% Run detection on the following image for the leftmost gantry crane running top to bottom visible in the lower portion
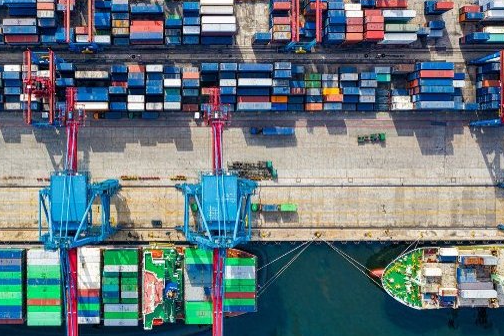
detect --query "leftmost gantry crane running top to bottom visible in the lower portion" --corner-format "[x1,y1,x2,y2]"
[38,88,122,336]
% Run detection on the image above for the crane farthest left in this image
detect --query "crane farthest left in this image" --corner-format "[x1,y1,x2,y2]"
[24,43,68,128]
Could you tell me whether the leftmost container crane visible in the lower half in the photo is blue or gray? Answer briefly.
blue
